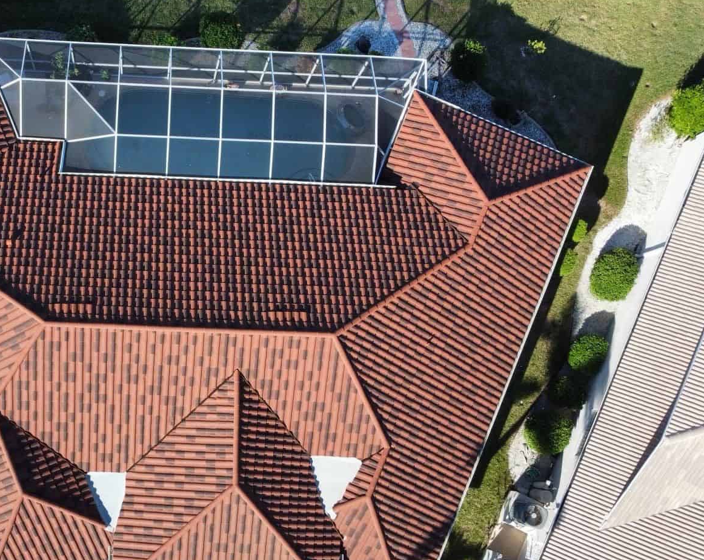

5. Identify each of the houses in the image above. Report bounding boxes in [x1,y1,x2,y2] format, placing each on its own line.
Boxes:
[0,88,596,560]
[531,124,704,560]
